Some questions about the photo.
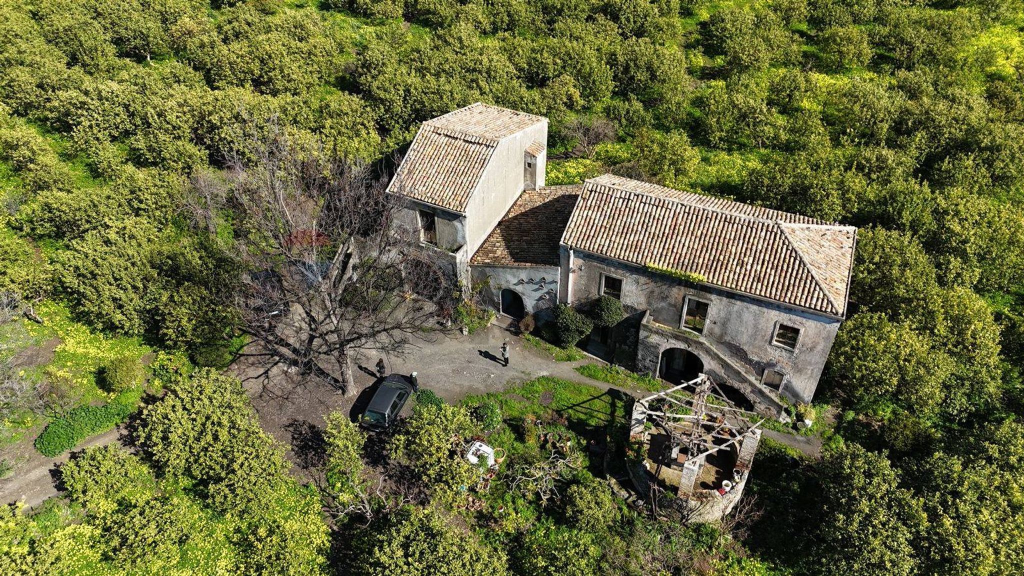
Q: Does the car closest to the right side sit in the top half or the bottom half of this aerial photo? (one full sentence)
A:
The bottom half of the photo is where the car closest to the right side is.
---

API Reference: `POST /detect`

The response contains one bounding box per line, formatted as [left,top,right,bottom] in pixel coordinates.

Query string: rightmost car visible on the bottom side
[356,373,415,437]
